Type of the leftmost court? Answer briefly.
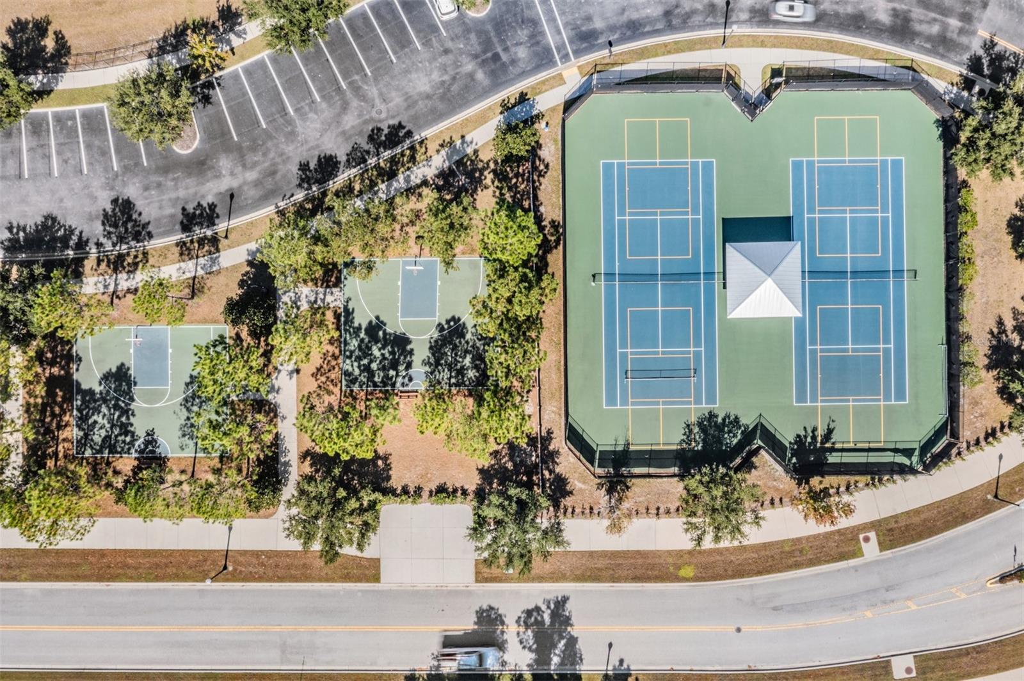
basketball court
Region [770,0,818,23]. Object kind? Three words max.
car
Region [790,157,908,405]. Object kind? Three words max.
tennis court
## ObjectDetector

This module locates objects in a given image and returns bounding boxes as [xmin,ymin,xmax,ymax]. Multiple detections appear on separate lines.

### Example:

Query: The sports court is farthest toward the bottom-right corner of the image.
[817,305,884,446]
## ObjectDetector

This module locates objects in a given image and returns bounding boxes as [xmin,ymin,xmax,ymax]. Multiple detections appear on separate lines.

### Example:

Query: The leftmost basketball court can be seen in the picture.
[73,324,229,457]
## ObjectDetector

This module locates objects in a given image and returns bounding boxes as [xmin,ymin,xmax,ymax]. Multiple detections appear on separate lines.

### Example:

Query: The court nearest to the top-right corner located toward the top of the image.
[815,116,881,256]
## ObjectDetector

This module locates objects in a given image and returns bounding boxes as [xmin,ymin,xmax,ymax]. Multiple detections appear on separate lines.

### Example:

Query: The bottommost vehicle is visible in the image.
[434,645,498,674]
